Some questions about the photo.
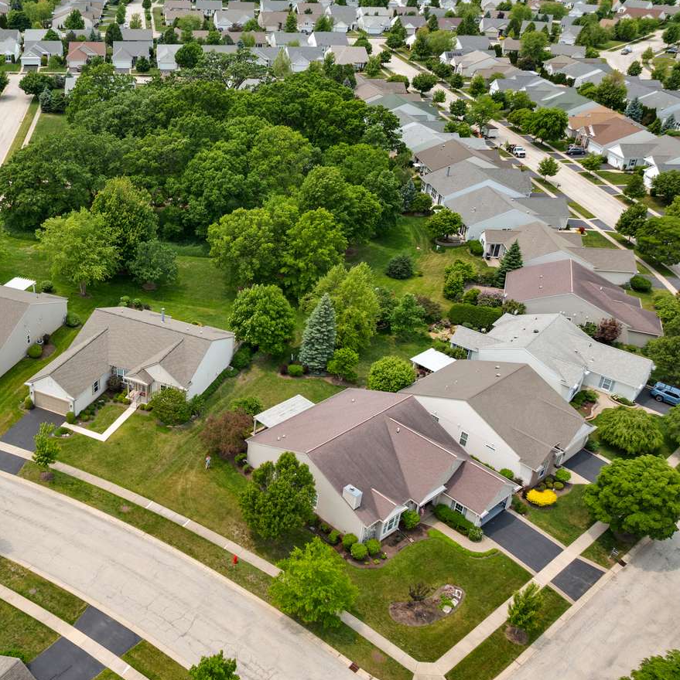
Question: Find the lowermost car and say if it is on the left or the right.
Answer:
right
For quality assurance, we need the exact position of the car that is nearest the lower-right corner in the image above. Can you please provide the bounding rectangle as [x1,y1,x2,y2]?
[644,377,680,399]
